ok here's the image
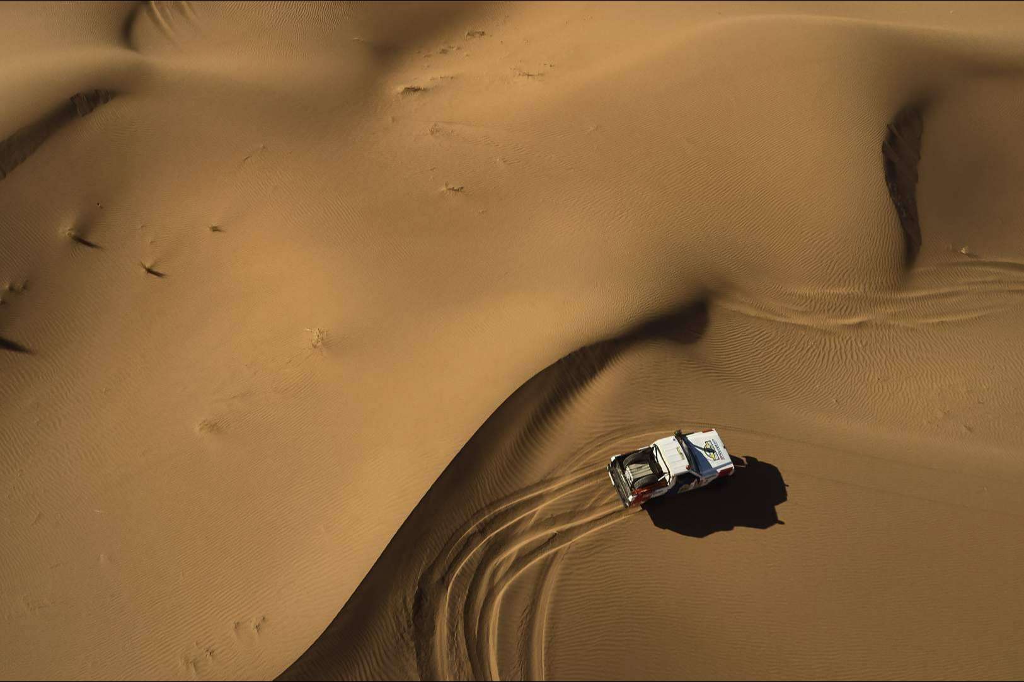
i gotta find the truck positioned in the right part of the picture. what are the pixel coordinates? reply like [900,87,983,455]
[603,430,732,506]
